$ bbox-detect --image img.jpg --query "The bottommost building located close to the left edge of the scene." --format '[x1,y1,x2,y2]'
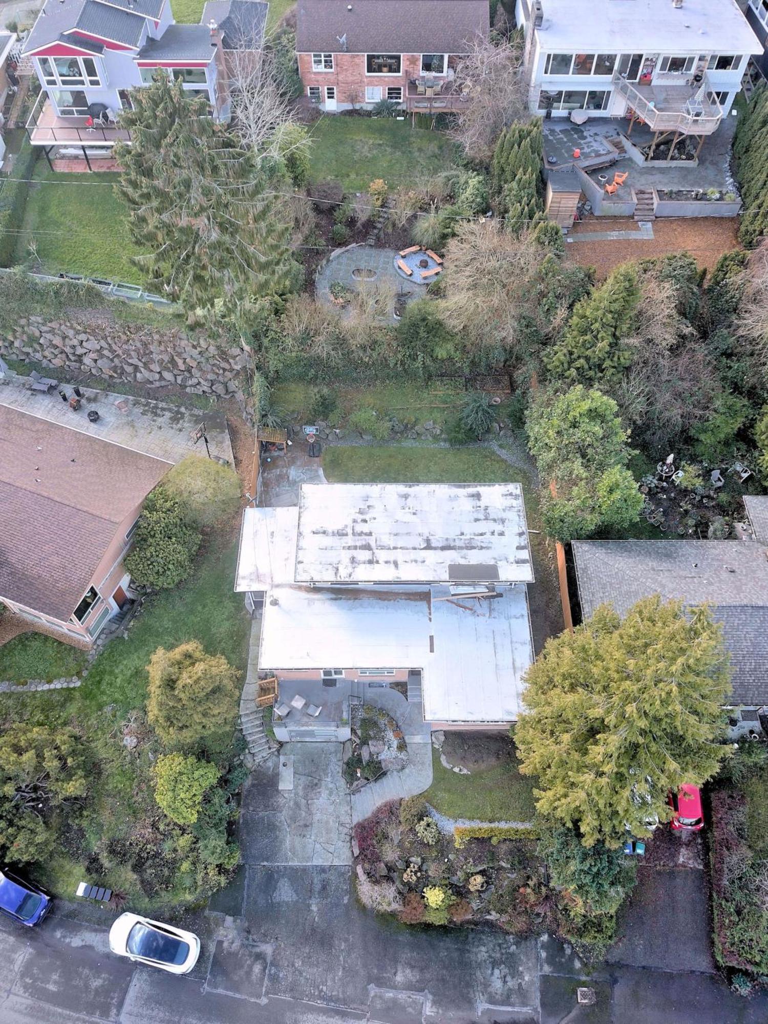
[0,409,175,638]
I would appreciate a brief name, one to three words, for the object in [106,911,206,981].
car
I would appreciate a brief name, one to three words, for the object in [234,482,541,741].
house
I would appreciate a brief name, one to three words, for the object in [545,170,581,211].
shed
